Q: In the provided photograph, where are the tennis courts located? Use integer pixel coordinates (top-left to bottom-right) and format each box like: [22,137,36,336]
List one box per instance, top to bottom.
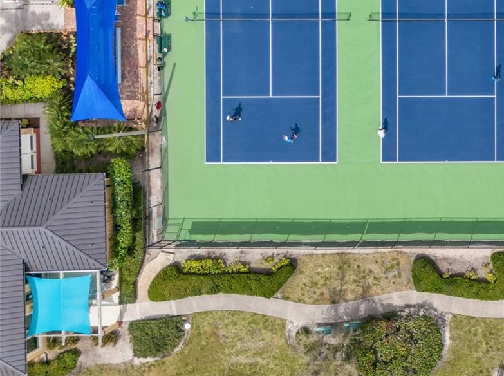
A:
[204,0,336,163]
[380,0,504,163]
